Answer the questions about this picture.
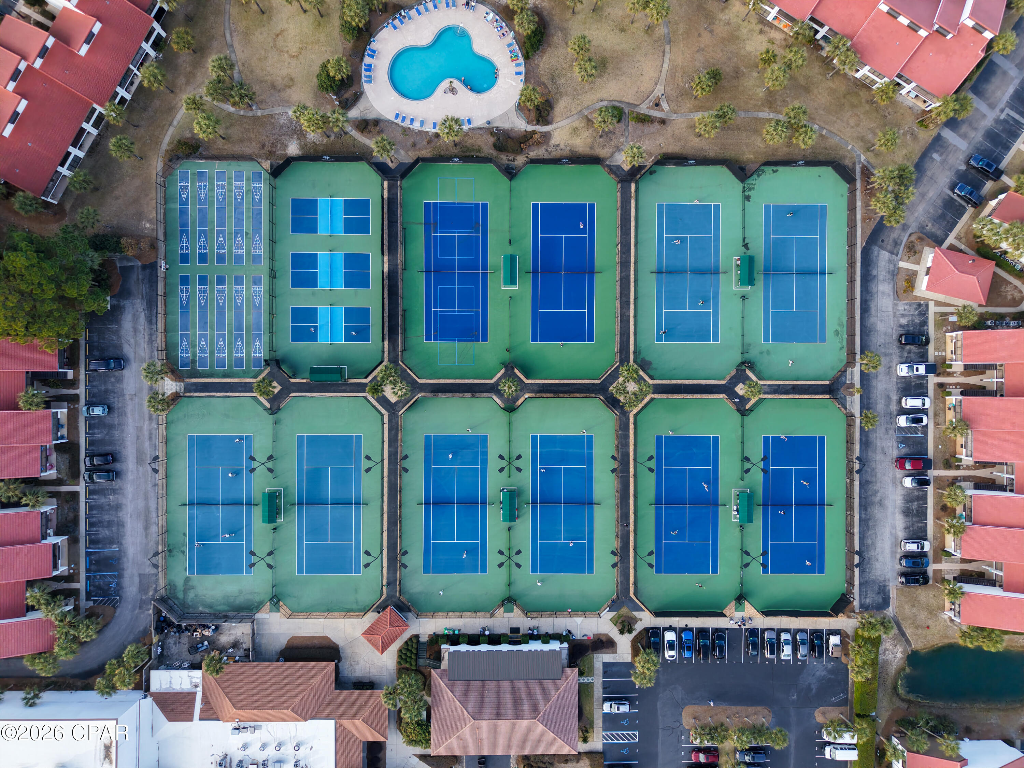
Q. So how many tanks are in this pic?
zero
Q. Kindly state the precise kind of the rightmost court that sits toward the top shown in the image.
tennis court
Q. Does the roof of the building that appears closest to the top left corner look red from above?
Yes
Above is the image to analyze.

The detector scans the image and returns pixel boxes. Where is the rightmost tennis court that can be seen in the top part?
[741,166,847,380]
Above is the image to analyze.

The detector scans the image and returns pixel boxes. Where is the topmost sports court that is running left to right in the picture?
[290,198,371,235]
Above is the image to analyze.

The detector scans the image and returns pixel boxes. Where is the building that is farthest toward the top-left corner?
[0,0,185,204]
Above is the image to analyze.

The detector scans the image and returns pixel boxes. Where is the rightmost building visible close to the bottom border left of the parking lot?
[431,627,579,756]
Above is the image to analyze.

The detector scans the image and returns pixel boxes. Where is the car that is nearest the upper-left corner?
[90,357,126,371]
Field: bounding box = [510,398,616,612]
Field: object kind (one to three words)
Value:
tennis court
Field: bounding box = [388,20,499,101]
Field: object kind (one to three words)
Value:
swimming pool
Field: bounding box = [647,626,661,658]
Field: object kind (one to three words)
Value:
car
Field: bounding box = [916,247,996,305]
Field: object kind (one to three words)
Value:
building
